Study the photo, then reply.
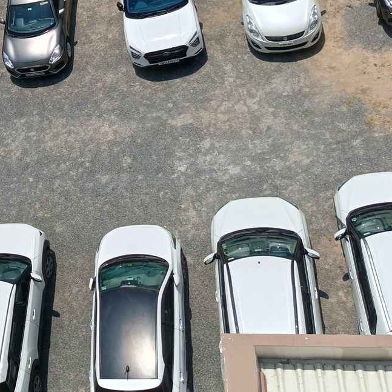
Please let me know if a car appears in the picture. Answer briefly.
Yes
